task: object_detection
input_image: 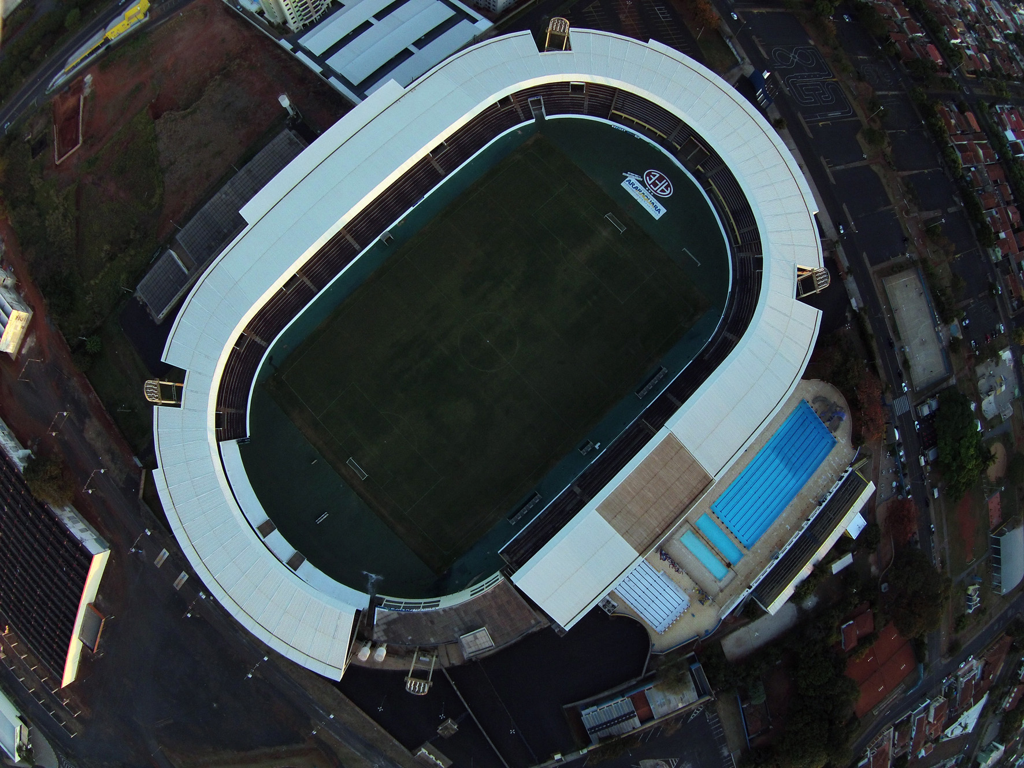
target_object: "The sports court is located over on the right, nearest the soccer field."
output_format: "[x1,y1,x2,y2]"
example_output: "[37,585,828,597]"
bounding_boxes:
[878,268,950,392]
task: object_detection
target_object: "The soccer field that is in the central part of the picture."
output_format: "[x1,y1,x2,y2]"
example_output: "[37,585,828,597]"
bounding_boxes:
[241,119,727,599]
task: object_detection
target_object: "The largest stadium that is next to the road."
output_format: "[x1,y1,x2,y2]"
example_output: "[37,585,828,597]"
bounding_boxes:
[153,28,823,681]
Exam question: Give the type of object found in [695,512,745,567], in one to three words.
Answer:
swimming pool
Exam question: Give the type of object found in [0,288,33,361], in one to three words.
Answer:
building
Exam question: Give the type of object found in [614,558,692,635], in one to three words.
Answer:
swimming pool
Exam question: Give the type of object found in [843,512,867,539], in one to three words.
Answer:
shed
